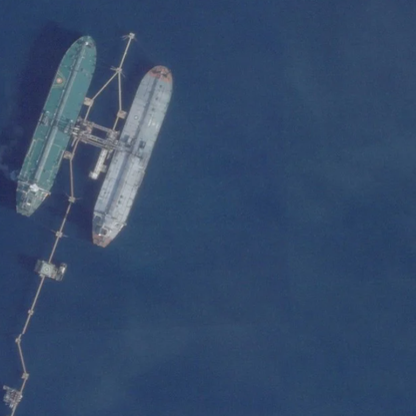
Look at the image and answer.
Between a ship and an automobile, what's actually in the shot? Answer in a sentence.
Visible in the photo is a ship.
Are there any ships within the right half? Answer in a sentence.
No, no ship appears within the right half.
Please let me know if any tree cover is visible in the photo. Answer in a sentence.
No, the picture contains no tree cover.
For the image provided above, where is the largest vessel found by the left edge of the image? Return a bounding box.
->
[17,35,95,214]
